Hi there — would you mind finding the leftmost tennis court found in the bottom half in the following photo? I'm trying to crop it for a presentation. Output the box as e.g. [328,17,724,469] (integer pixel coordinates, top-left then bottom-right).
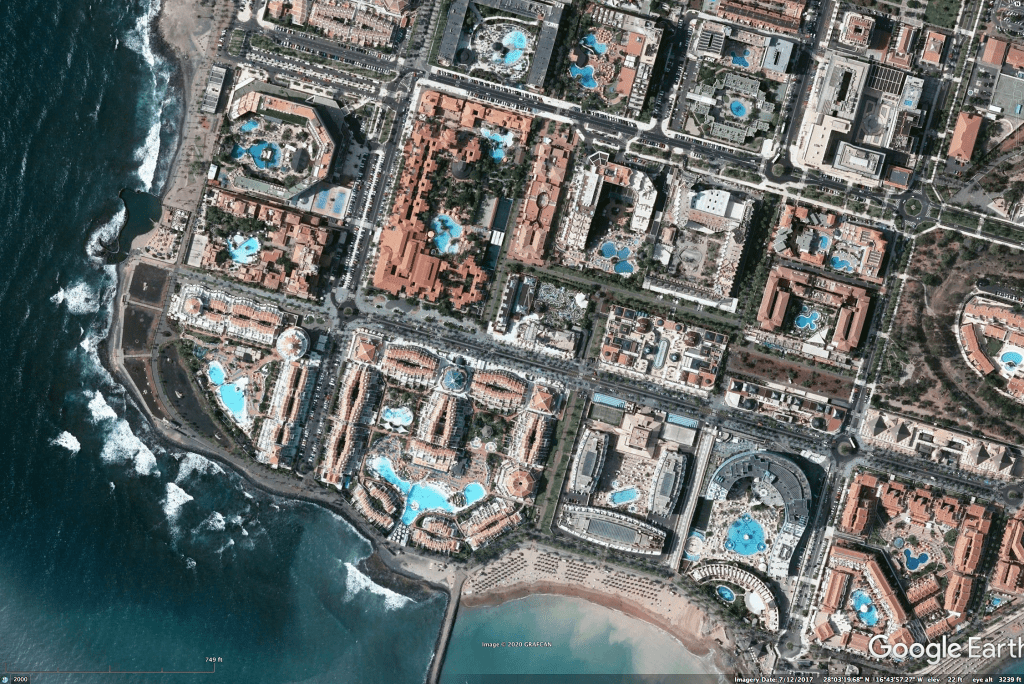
[587,402,625,427]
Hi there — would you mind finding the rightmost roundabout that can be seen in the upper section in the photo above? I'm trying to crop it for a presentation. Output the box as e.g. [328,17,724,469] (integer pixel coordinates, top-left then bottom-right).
[898,192,929,222]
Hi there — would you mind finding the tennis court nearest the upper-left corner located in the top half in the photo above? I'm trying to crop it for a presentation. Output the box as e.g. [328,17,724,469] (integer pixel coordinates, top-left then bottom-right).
[185,234,208,266]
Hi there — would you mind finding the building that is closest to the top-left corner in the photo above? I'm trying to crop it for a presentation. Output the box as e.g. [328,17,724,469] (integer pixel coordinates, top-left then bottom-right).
[201,65,229,115]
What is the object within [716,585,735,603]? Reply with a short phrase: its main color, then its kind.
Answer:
blue swimming pool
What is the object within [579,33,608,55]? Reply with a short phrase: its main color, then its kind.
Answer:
blue swimming pool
